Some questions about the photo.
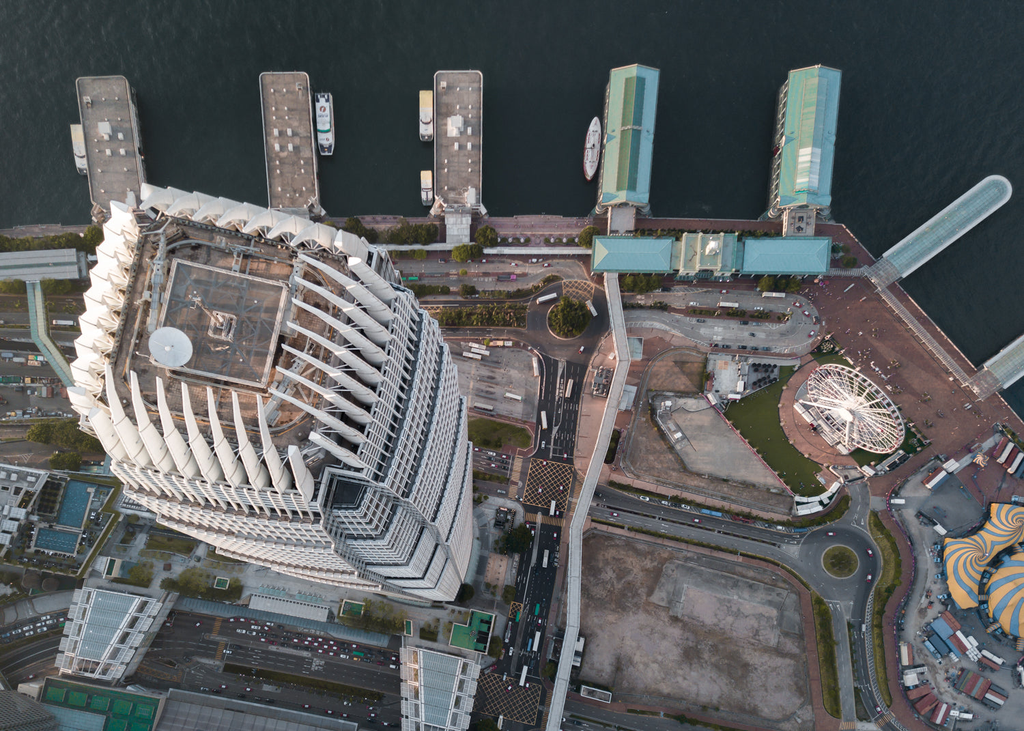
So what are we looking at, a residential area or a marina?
marina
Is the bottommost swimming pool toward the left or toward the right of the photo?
left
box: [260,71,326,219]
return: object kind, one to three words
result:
pier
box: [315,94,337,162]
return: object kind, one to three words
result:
vessel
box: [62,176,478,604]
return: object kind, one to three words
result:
building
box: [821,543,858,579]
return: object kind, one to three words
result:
roundabout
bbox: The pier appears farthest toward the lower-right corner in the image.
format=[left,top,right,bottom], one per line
[974,338,1024,398]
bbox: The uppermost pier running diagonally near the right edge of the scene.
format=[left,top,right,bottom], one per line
[875,175,1013,284]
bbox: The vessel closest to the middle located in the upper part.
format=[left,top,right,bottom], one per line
[421,170,434,212]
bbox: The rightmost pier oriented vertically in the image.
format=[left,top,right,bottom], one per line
[761,64,842,226]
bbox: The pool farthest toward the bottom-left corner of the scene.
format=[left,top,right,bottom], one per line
[32,527,82,555]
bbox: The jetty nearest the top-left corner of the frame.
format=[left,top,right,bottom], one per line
[77,75,151,227]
